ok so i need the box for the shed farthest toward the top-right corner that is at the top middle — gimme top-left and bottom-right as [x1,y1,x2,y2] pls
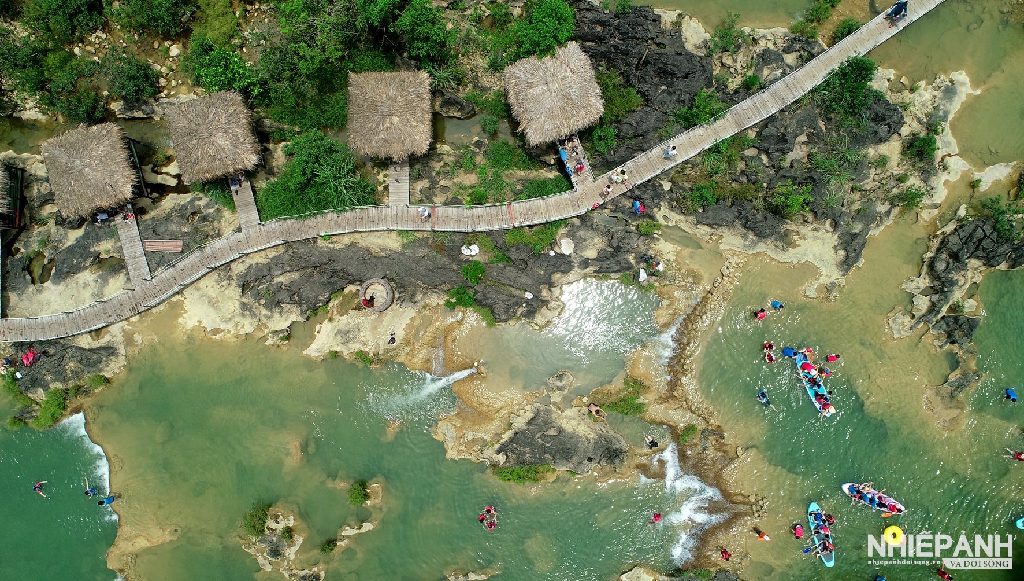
[500,41,607,149]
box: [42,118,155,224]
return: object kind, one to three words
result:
shed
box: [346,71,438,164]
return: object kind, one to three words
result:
shed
